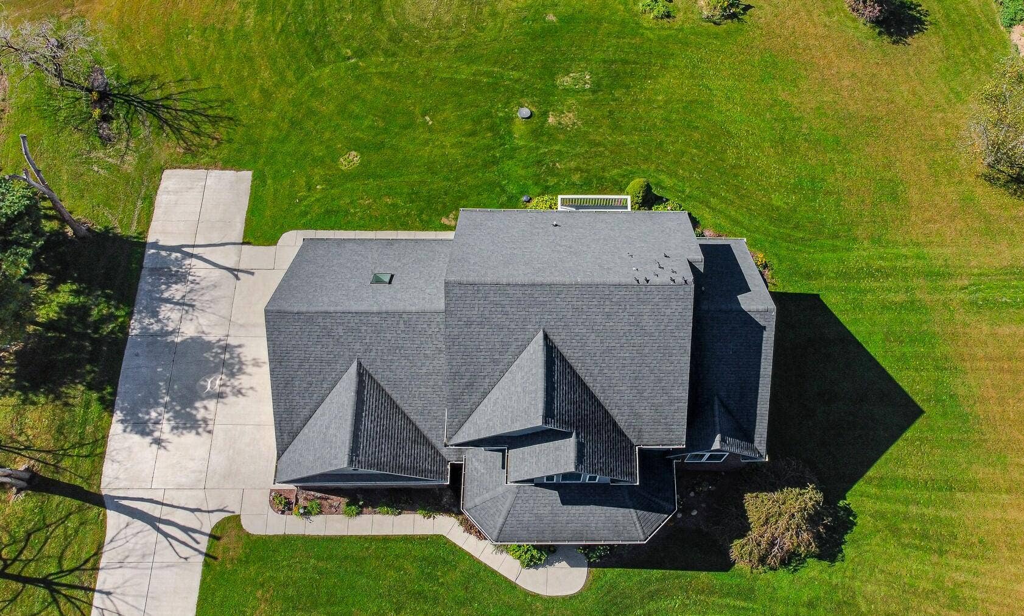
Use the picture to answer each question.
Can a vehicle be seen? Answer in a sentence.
No, no vehicle is visible in the view.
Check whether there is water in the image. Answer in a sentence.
No, the picture contains no water.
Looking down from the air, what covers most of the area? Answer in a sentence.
The scene is dominated by grass.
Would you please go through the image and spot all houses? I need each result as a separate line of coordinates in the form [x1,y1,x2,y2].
[267,195,776,546]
